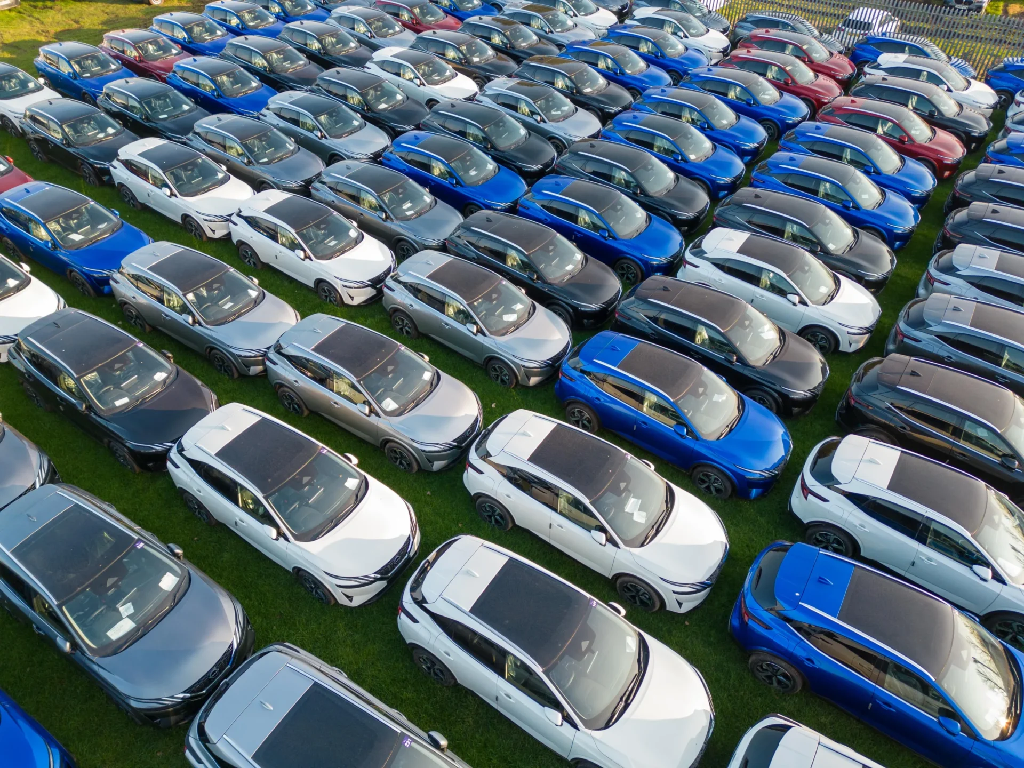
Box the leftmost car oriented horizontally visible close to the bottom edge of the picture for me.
[181,647,469,768]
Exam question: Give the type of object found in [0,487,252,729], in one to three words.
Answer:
car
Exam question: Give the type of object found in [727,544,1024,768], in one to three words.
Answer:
car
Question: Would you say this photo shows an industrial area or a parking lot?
parking lot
